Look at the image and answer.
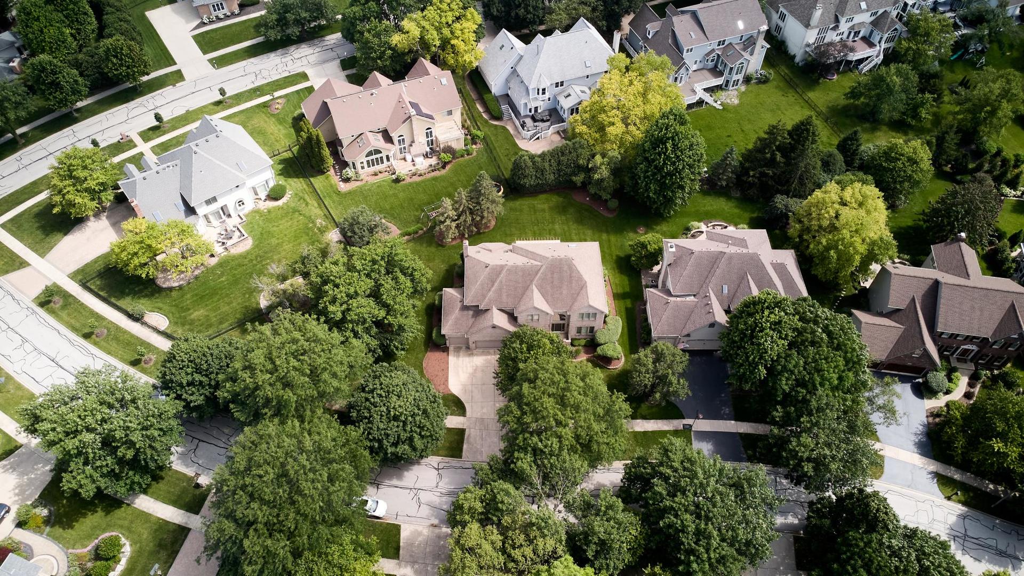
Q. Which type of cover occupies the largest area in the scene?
trees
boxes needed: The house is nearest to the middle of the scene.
[440,232,608,351]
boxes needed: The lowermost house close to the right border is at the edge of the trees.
[853,224,1024,378]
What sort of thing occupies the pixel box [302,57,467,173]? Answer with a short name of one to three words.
house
